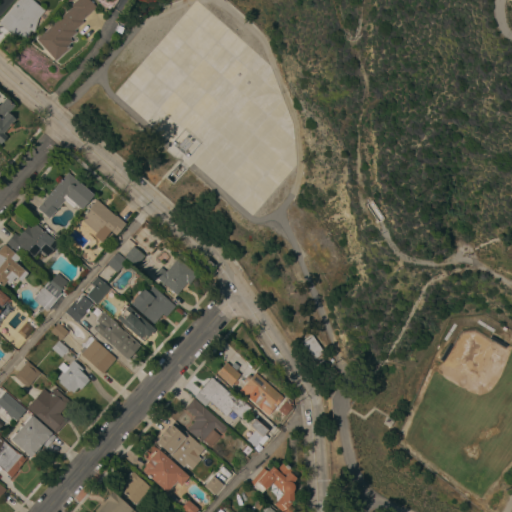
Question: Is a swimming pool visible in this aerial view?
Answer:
Yes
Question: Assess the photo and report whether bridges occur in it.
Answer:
No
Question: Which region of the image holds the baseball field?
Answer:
bottom right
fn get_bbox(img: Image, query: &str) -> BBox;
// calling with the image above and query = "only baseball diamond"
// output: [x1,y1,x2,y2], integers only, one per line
[402,328,512,502]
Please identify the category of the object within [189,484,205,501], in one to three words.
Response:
swimming pool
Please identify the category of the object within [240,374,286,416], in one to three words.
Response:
house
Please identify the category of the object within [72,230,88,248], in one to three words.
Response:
swimming pool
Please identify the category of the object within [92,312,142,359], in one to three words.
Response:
building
